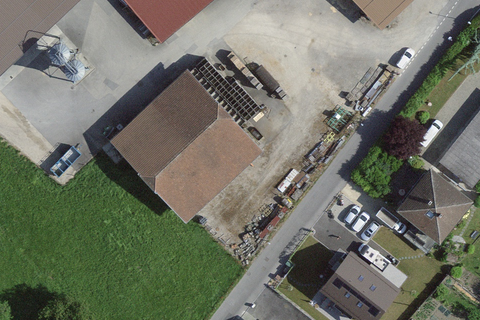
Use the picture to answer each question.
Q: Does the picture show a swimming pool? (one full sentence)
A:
No, no swimming pool is visible in the view.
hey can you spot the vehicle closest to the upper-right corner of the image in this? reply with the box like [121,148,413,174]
[396,48,414,70]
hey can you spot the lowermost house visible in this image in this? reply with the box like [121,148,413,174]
[316,252,402,320]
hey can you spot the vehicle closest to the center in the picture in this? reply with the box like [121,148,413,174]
[248,126,263,141]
